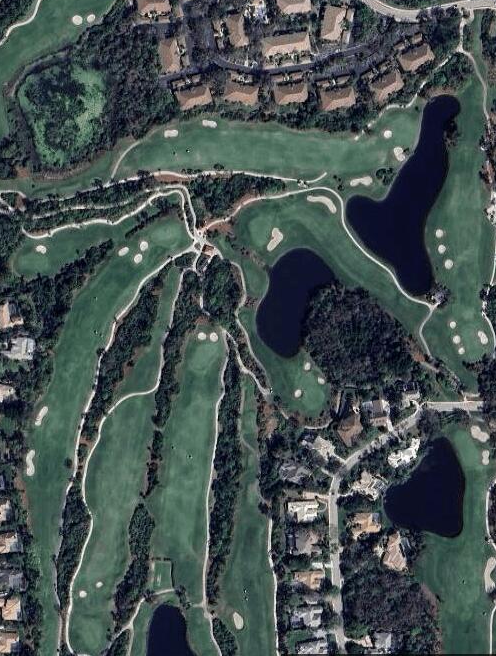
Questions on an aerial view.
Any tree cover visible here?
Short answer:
Yes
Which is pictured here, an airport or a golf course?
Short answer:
golf course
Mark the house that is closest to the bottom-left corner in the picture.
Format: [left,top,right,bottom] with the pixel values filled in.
[0,632,24,652]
